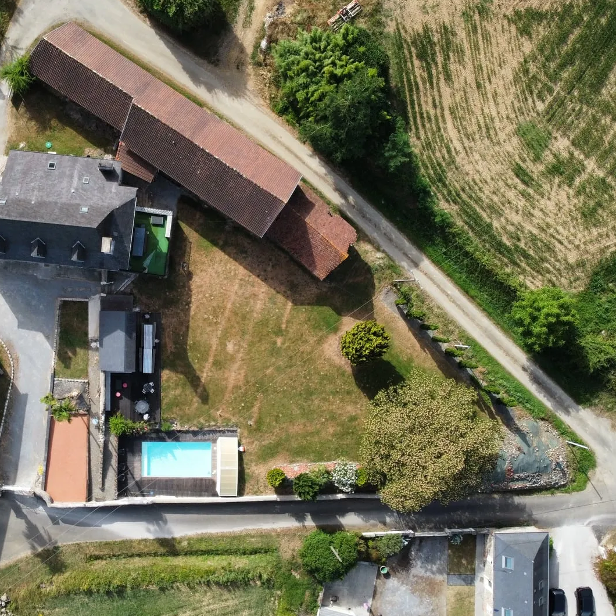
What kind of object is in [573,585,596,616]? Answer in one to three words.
car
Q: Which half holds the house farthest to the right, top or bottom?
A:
bottom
